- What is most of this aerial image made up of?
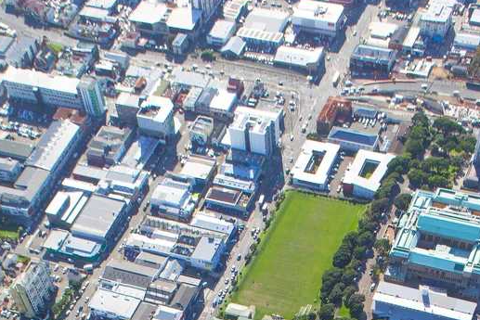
buildings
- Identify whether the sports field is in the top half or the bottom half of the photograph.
bottom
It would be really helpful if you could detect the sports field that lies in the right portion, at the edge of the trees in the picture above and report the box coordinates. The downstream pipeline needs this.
[234,188,370,320]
